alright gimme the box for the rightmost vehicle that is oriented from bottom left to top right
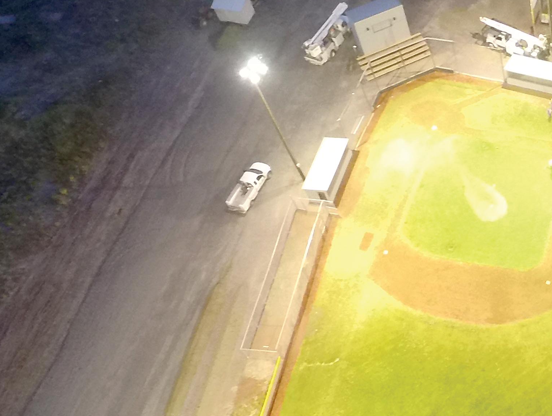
[306,0,352,63]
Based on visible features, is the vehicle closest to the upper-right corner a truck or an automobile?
truck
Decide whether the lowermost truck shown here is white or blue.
white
